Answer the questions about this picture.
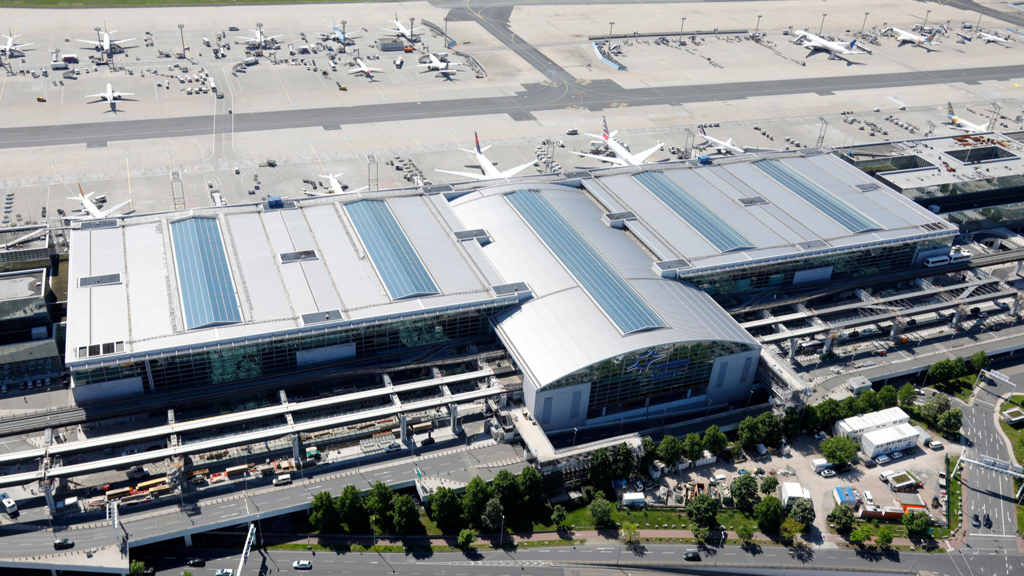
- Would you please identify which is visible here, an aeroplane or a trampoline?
aeroplane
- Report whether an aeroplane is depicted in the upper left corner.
Yes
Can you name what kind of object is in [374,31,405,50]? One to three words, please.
building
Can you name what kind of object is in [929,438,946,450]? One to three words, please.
vehicle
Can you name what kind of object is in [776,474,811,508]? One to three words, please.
building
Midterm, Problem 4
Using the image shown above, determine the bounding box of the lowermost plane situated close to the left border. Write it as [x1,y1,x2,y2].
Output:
[42,175,137,219]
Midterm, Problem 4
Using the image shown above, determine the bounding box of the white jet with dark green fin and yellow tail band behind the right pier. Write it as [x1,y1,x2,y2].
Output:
[944,100,1012,138]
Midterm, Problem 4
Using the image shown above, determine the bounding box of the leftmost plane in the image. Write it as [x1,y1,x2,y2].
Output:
[0,19,41,58]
